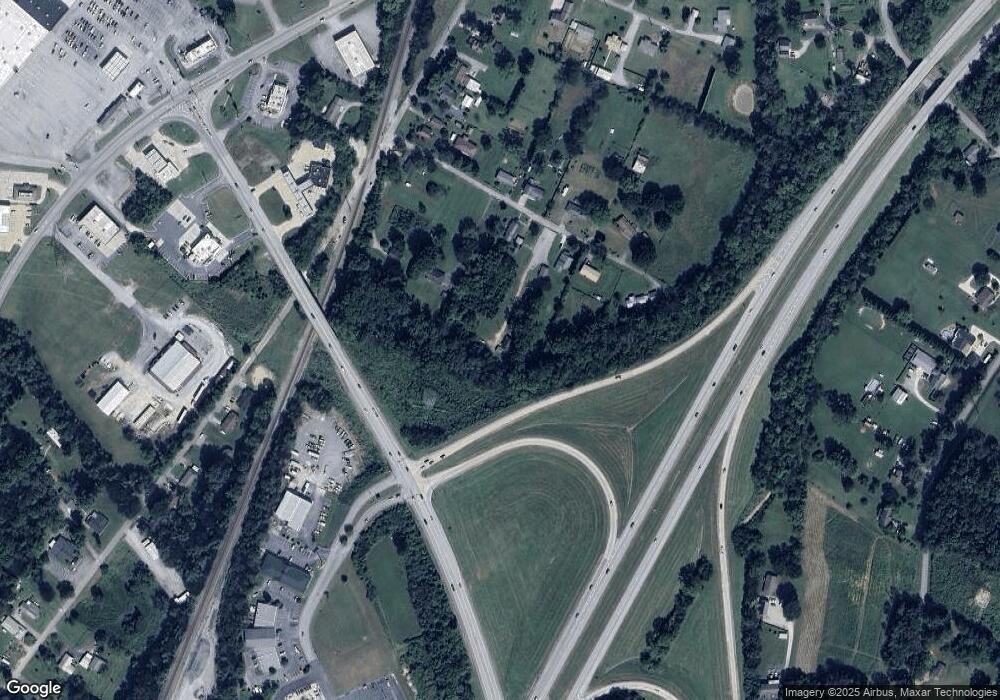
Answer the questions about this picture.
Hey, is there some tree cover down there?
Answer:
Yes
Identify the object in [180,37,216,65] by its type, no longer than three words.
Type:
building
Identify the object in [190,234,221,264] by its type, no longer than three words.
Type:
building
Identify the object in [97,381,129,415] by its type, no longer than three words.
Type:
barn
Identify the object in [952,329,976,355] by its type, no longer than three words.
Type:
house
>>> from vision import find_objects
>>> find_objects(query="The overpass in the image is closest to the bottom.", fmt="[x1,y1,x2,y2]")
[279,266,334,339]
